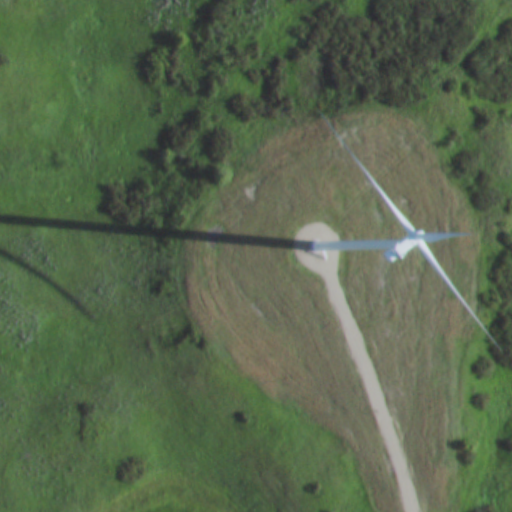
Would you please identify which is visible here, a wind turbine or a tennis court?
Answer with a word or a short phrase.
wind turbine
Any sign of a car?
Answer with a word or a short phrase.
No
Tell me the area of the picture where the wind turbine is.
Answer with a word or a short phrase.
right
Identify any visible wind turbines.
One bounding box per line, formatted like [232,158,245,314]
[312,110,500,350]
